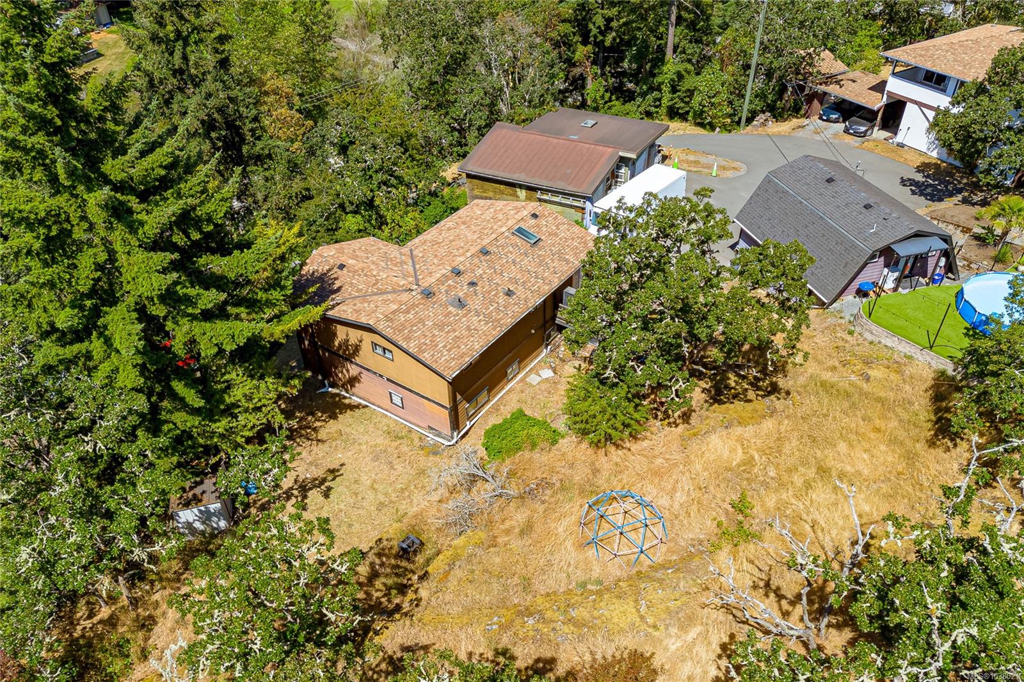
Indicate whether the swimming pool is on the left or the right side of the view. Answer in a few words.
right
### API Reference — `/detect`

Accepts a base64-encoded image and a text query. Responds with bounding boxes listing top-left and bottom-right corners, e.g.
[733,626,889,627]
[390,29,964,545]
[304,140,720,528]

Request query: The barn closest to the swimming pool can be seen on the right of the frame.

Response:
[734,155,962,307]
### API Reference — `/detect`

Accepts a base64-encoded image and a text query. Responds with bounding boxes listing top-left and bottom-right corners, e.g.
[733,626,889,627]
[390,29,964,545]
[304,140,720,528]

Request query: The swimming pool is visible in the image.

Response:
[951,275,1024,353]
